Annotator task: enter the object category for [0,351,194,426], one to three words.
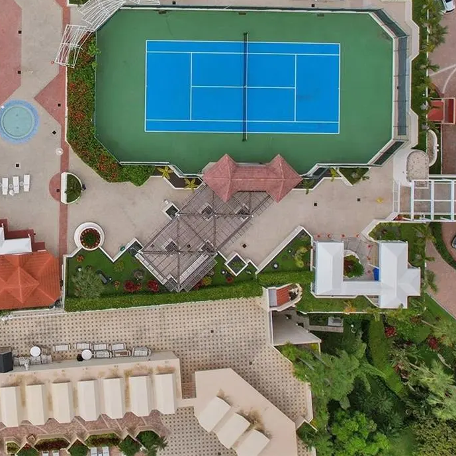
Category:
building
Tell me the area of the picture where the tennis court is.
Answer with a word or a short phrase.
top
